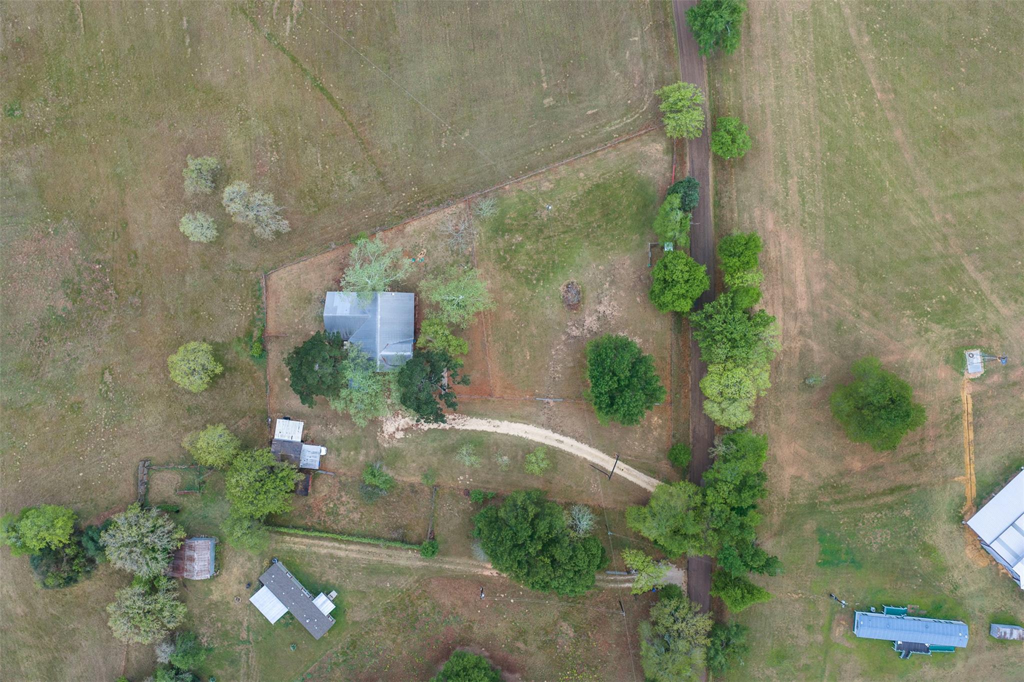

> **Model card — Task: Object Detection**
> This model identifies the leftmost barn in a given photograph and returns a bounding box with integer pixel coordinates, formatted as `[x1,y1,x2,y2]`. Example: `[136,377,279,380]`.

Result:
[166,536,215,579]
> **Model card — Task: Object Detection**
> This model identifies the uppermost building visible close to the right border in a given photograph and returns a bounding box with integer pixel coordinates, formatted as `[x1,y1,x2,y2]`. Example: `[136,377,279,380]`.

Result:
[960,470,1024,583]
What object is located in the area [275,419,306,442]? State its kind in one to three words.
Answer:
shed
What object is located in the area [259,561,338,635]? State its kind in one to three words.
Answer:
house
